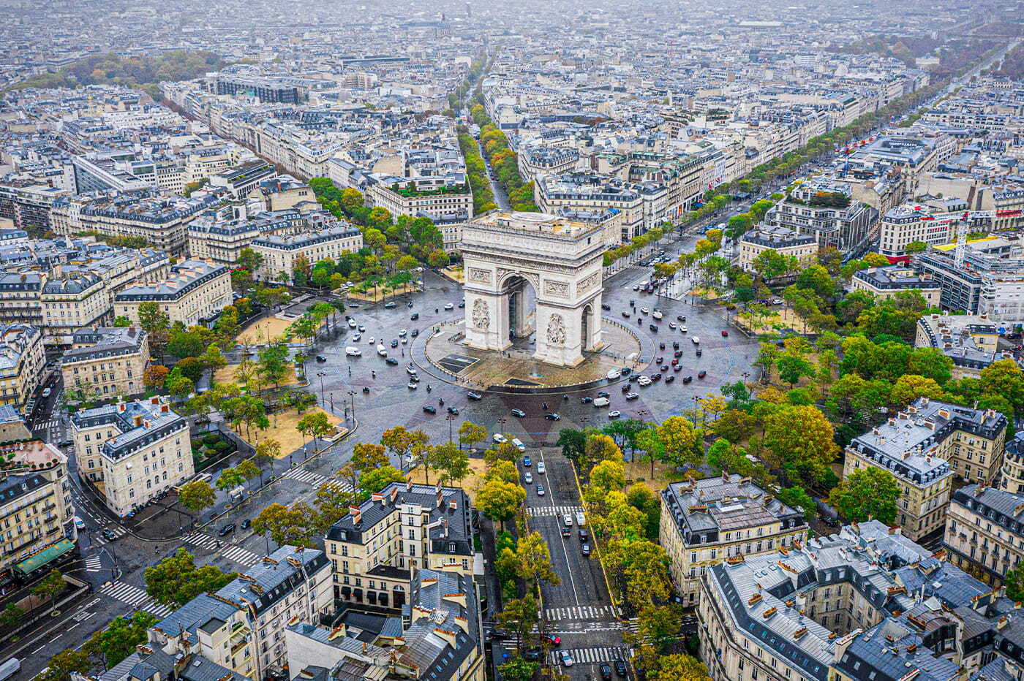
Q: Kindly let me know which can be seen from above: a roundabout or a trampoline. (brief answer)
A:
roundabout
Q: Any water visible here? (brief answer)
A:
No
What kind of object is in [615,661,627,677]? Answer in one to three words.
vehicle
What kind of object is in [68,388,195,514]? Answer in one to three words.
house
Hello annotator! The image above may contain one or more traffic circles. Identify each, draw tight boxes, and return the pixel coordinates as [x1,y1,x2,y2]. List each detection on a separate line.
[255,275,807,473]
